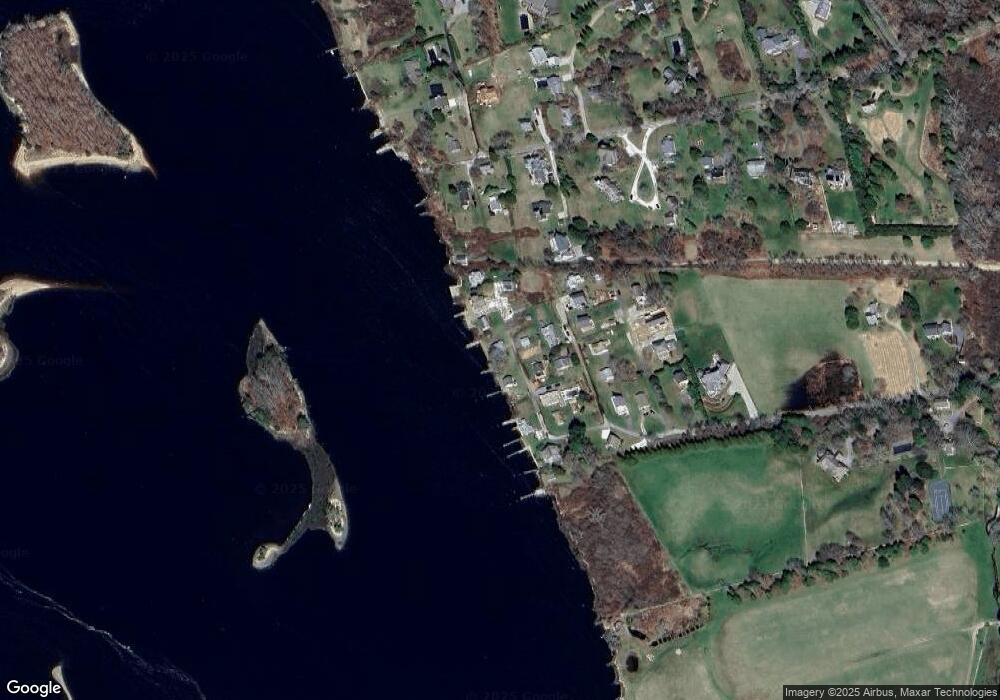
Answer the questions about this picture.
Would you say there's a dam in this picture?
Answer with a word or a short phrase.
No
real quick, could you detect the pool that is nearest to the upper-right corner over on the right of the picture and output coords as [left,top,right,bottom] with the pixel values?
[669,35,687,58]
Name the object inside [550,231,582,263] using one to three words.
house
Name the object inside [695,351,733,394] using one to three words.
house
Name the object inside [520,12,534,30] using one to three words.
swimming pool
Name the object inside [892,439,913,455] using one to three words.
swimming pool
